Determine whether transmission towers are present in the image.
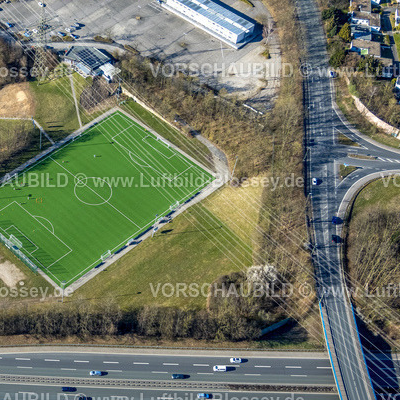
Yes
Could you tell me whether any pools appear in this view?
No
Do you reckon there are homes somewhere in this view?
Yes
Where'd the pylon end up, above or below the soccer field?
above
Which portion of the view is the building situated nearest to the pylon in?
top left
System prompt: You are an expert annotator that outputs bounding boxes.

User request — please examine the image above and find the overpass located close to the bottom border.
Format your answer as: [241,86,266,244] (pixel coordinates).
[319,295,379,400]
